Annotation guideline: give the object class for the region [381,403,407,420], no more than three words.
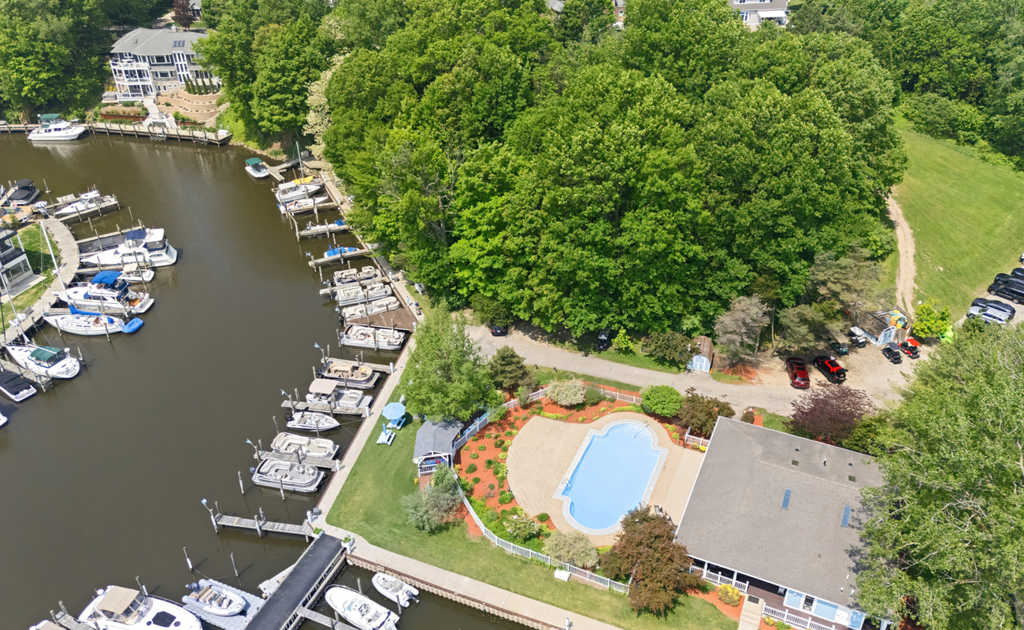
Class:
umbrella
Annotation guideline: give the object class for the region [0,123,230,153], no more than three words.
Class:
pier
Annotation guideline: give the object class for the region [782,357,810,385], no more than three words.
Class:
car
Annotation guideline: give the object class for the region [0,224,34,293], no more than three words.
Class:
house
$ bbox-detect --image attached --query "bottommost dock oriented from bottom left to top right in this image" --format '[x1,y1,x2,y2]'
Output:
[244,539,346,630]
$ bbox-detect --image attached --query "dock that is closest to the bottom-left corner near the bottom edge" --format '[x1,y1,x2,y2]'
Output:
[46,594,106,630]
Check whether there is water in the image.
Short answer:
Yes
